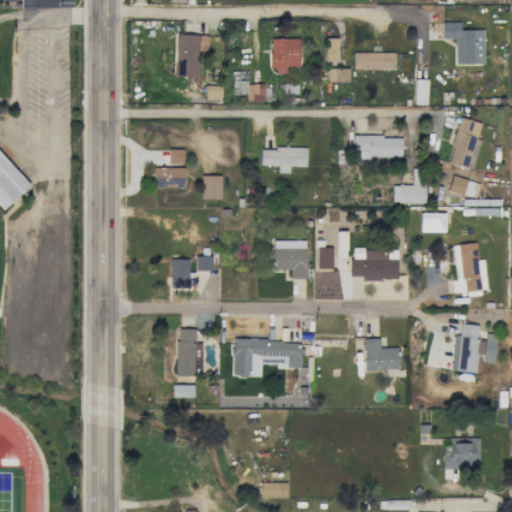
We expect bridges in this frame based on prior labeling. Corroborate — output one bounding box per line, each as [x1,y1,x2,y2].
[82,385,124,430]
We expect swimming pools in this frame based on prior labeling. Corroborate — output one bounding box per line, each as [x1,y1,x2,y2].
[374,390,388,403]
[206,342,216,368]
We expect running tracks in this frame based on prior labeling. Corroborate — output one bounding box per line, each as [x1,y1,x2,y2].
[0,404,49,512]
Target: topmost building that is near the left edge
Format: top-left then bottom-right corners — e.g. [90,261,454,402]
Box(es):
[0,148,32,208]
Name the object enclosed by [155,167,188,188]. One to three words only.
house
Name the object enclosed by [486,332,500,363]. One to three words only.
shed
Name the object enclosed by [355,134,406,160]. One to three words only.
house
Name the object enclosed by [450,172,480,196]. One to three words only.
barn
